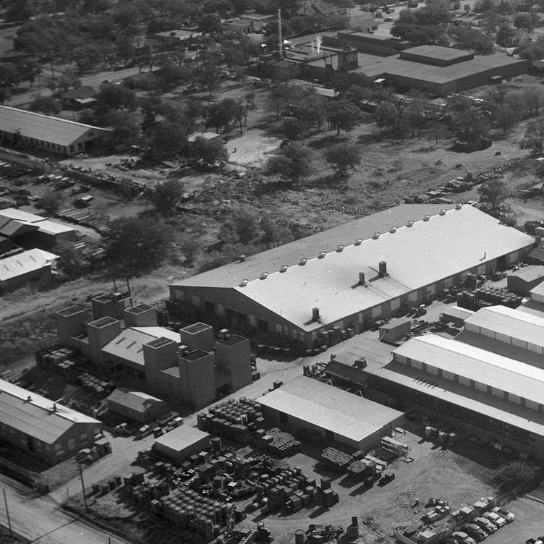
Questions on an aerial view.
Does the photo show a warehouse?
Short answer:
Yes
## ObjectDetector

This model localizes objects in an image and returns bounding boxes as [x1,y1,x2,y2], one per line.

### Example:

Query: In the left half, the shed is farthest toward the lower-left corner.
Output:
[0,376,103,464]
